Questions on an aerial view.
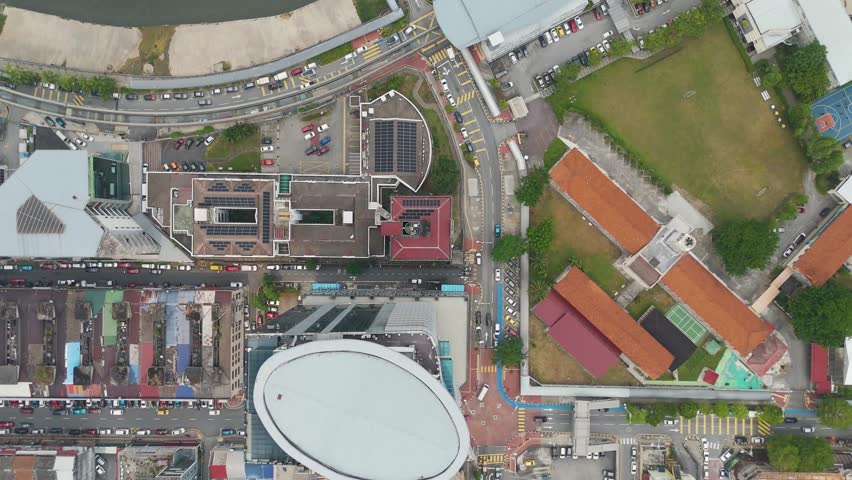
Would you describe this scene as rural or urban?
urban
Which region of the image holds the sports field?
top right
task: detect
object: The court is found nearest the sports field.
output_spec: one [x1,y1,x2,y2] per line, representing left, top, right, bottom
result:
[810,83,852,141]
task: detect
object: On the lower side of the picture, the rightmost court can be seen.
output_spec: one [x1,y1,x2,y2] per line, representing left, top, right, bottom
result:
[665,303,708,344]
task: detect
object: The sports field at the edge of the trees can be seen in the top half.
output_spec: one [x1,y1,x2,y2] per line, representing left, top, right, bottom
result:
[558,20,806,224]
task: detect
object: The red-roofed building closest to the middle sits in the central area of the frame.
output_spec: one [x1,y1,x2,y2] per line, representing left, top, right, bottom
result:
[381,195,452,261]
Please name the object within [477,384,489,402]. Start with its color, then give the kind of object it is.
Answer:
white vehicle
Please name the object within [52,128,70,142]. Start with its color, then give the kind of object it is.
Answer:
white vehicle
